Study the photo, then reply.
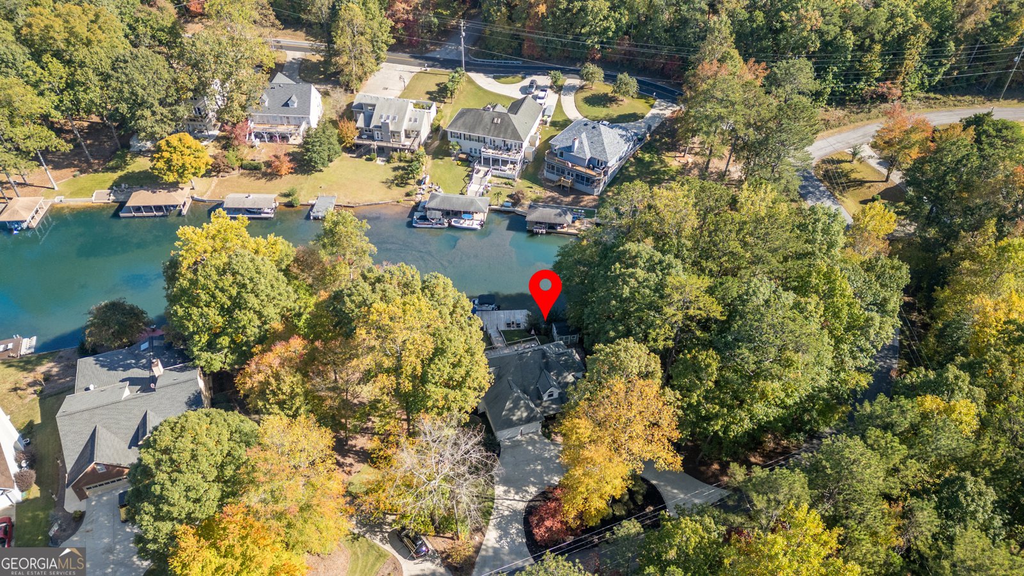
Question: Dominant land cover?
trees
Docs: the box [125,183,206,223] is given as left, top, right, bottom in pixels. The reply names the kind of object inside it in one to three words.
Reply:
building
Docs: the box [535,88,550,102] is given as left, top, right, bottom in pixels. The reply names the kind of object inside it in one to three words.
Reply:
vehicle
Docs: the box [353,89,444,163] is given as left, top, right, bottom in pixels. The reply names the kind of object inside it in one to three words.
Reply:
house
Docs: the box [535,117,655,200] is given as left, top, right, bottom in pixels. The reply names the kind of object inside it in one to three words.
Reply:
house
